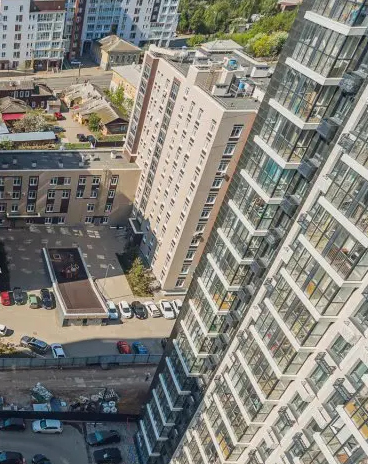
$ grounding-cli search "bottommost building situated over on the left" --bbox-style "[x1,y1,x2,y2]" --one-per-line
[43,246,109,327]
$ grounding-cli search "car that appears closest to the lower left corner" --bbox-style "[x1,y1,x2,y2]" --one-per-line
[0,450,22,464]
